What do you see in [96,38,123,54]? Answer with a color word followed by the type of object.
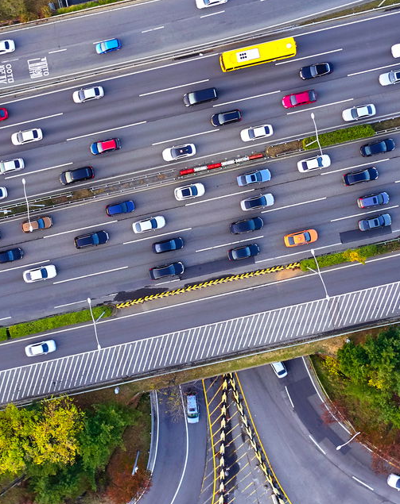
blue car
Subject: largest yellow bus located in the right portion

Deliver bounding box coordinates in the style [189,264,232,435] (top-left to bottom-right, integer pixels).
[217,38,299,72]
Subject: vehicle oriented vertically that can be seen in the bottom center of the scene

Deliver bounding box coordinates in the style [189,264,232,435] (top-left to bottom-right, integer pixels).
[185,392,200,426]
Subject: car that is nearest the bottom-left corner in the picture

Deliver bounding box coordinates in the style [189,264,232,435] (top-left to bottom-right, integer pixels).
[25,339,58,357]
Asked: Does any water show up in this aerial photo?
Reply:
No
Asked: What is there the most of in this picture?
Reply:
paved ground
